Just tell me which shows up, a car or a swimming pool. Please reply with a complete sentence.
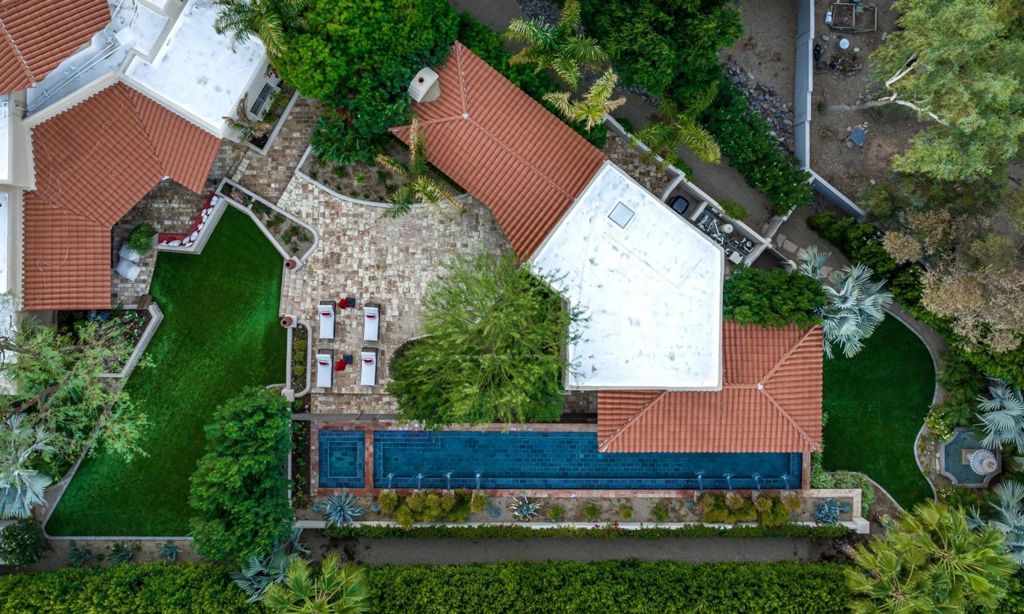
This aerial view contains a swimming pool.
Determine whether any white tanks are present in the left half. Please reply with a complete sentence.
No, I see no white tank in the left half.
